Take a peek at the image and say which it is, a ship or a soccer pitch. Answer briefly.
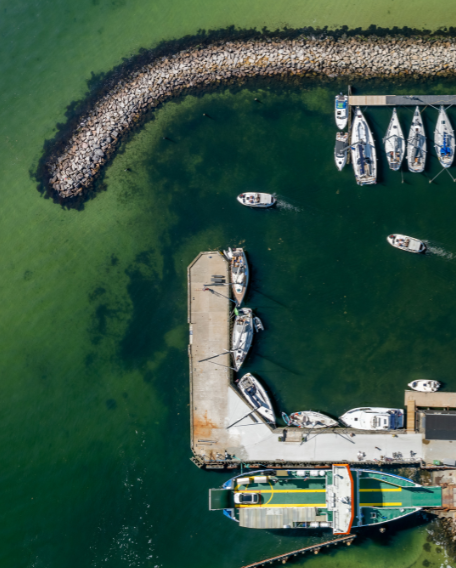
ship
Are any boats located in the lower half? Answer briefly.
Yes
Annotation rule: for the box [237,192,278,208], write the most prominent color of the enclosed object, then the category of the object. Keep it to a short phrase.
white boat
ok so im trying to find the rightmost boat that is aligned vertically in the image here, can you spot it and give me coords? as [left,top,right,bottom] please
[432,105,455,178]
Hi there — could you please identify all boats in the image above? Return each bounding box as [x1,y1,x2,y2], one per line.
[342,105,379,186]
[408,377,442,392]
[432,105,455,178]
[212,249,250,305]
[290,411,341,433]
[232,372,276,423]
[333,129,348,171]
[334,92,348,129]
[237,192,278,208]
[340,406,406,430]
[213,307,255,371]
[405,105,428,177]
[388,233,428,253]
[254,317,264,333]
[381,106,406,181]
